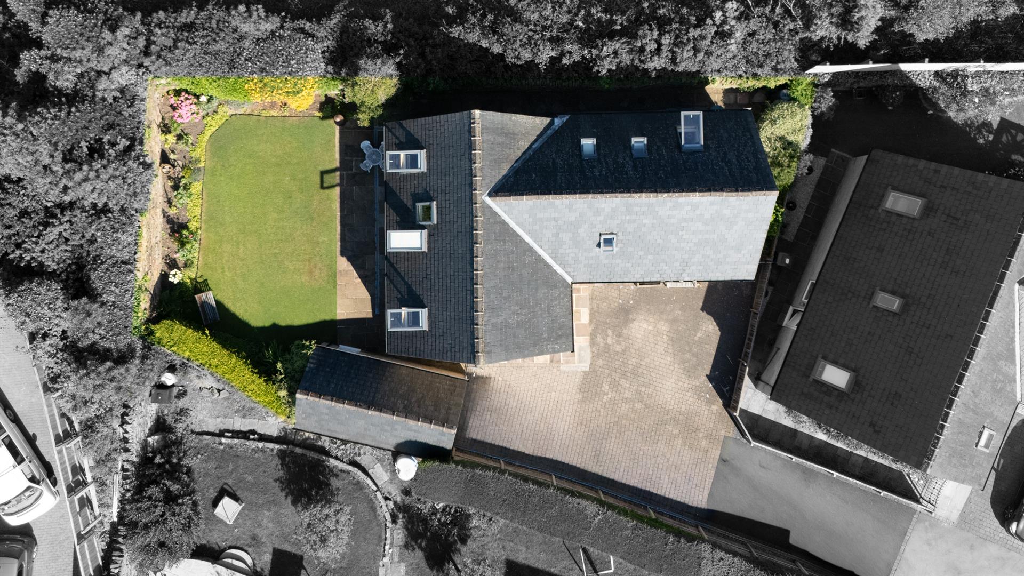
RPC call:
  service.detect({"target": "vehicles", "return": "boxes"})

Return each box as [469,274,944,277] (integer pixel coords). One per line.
[0,537,41,576]
[1004,486,1024,538]
[0,407,58,516]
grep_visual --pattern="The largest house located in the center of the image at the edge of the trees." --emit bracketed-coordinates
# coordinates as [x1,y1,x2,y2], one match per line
[383,107,780,366]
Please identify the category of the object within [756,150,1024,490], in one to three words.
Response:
house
